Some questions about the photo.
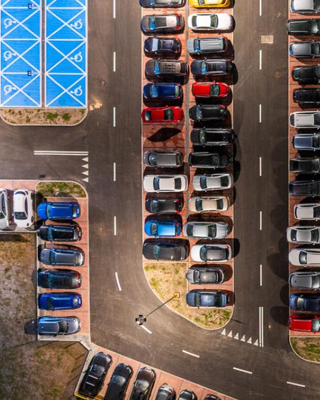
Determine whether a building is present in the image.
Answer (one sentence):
No, the picture doesn't show any building.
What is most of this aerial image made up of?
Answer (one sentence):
The scene is dominated by paved ground.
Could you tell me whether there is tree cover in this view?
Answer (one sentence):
No, tree cover can't be seen anywhere here.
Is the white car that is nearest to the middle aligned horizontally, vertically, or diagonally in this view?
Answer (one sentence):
The white car that is nearest to the middle is oriented horizontally.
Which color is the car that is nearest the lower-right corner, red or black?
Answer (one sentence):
The color of the car that is nearest the lower-right corner is red.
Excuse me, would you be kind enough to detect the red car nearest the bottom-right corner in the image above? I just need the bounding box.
[289,313,320,335]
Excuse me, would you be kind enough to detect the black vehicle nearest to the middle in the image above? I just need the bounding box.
[147,196,182,216]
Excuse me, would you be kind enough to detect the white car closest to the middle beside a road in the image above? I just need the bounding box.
[145,174,188,194]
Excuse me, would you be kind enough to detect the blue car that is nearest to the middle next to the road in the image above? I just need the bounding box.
[146,219,182,239]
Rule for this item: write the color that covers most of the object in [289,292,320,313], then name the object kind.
black car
